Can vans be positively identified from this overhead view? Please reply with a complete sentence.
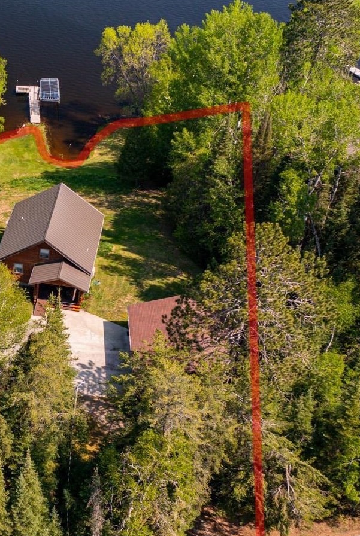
No, the picture doesn't show any van.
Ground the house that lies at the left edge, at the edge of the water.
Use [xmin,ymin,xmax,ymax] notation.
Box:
[0,182,104,323]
